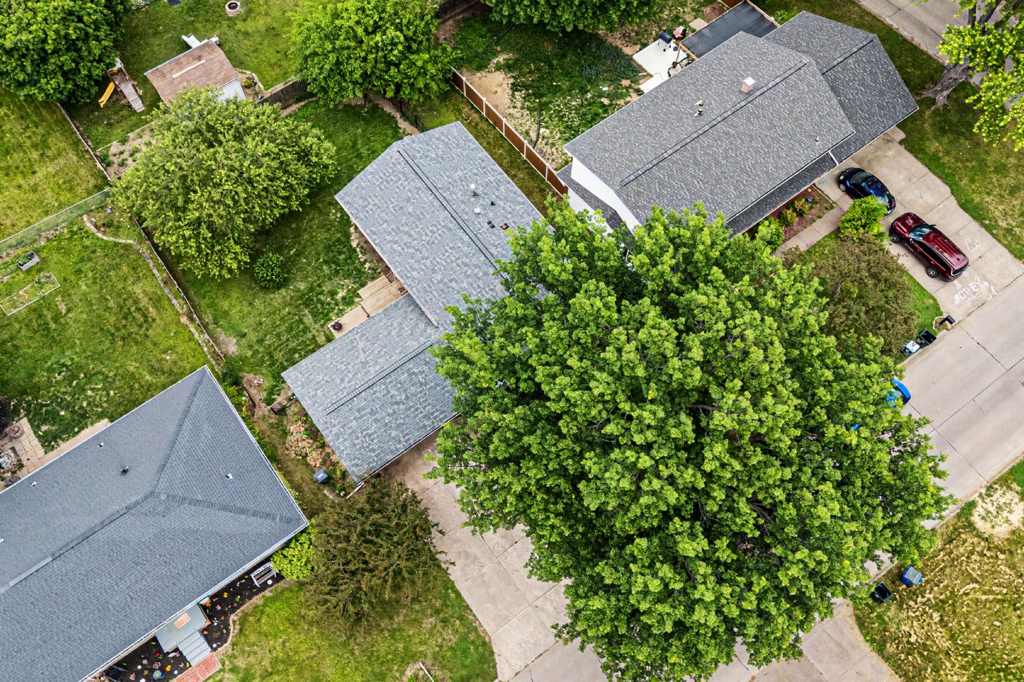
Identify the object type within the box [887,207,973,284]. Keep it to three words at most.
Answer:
car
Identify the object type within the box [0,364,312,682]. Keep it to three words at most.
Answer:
house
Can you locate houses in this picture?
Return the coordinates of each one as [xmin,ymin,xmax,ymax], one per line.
[552,7,921,248]
[0,364,312,682]
[282,120,590,486]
